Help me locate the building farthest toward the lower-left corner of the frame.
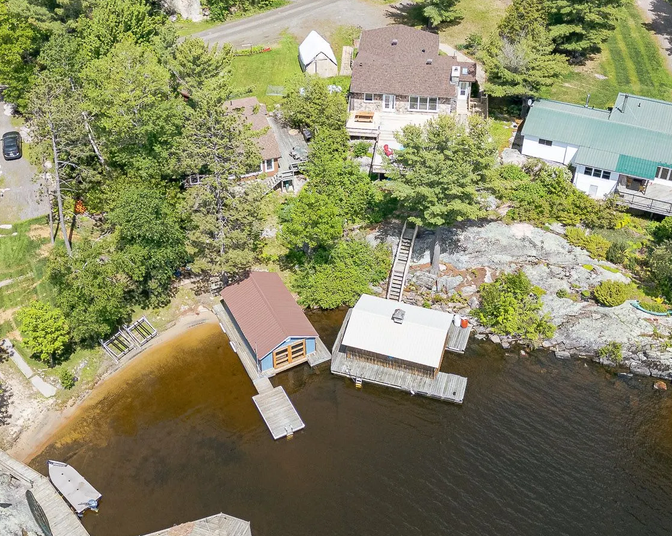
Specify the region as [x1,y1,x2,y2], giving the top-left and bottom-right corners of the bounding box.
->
[215,272,322,381]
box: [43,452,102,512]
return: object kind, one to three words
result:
boat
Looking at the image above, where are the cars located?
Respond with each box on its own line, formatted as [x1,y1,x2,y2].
[0,129,25,161]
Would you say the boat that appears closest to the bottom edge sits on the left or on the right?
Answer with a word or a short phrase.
left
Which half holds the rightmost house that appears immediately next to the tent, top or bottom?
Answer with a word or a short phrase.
top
